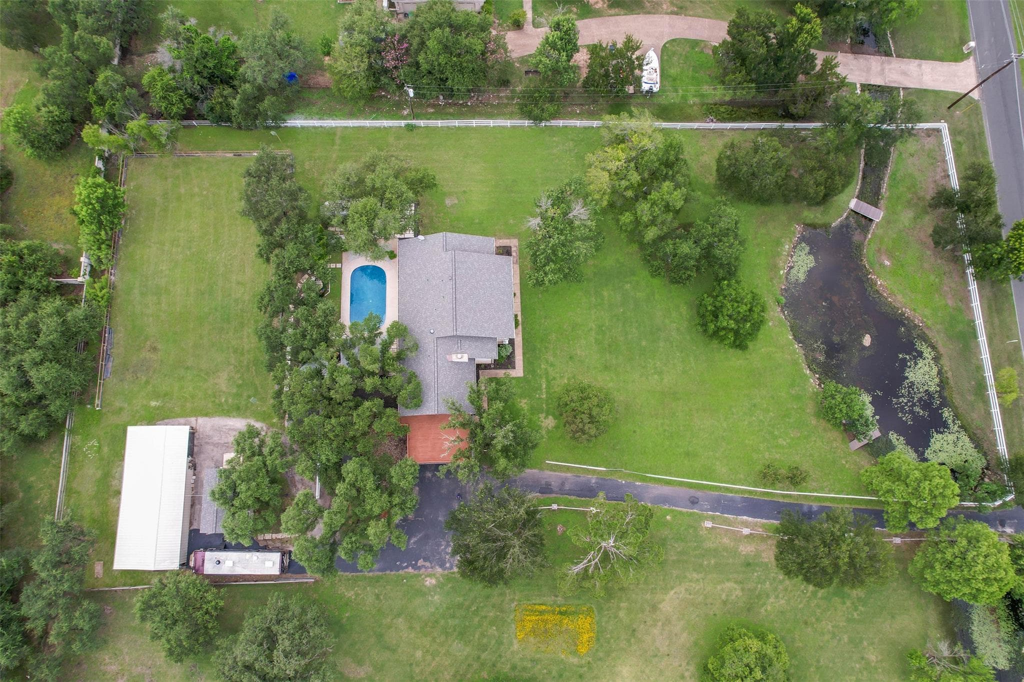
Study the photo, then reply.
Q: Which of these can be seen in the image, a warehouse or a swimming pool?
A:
swimming pool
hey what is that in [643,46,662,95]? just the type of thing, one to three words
boat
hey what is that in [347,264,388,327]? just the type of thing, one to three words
swimming pool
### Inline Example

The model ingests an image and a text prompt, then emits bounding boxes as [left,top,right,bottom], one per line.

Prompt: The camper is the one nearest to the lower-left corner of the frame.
[192,546,295,576]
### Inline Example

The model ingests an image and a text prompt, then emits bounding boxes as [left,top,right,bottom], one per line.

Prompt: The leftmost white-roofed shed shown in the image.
[115,425,200,571]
